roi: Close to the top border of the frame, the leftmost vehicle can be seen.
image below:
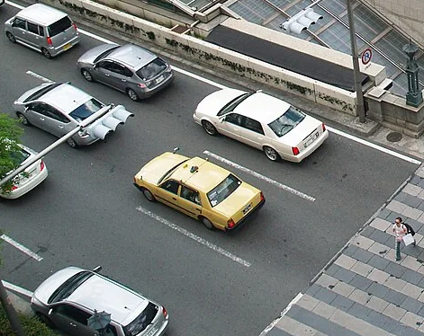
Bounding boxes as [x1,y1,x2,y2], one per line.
[0,0,82,54]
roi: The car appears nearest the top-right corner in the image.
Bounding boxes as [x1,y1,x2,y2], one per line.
[186,89,325,162]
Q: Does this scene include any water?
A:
No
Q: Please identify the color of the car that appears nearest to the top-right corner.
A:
white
